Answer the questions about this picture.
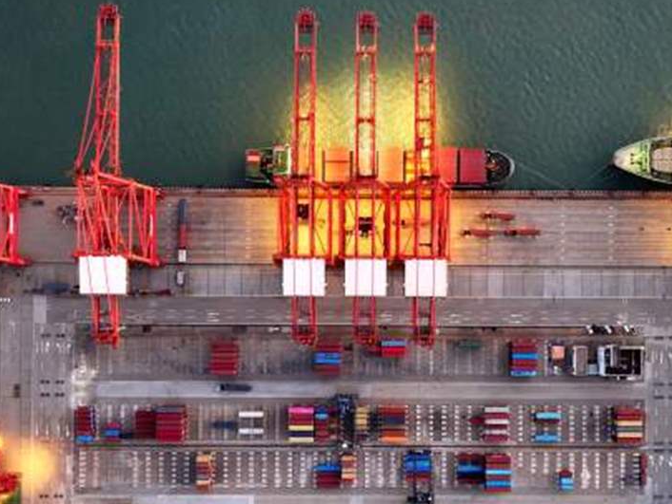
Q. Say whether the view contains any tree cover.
No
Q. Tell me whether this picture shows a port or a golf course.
port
